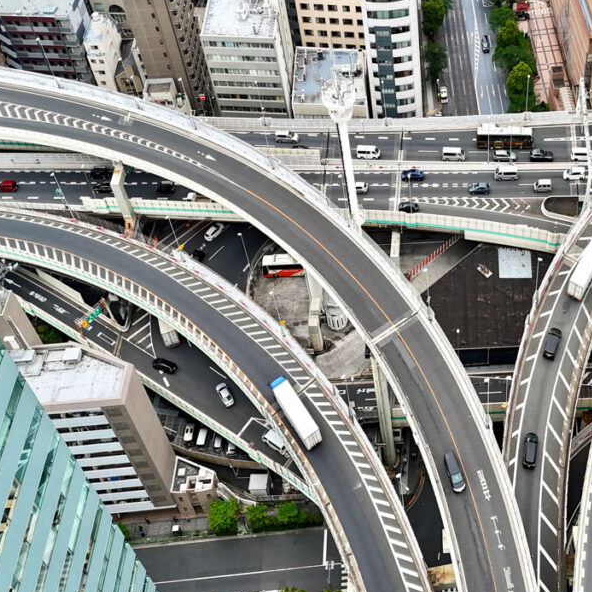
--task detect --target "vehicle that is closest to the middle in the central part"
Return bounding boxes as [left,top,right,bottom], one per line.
[258,256,307,277]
